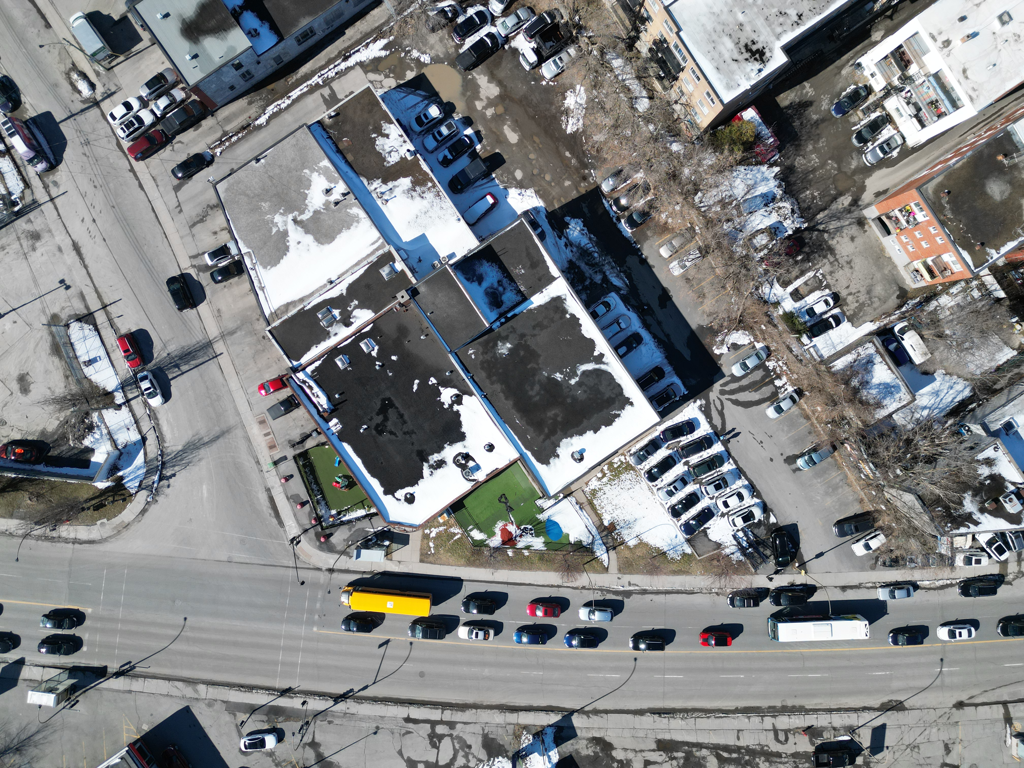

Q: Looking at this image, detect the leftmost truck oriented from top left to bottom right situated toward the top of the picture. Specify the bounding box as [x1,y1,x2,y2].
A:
[0,116,60,172]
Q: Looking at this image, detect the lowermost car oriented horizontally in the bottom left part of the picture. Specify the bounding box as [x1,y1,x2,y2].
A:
[238,731,278,753]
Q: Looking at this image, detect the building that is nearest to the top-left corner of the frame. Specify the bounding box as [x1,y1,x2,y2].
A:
[130,0,273,111]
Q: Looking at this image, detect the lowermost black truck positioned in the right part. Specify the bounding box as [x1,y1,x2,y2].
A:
[811,746,856,768]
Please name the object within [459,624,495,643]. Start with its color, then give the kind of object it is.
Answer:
white car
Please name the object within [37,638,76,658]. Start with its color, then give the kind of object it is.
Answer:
black car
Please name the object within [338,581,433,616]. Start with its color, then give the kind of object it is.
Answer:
yellow bus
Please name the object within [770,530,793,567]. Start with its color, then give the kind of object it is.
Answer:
black car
